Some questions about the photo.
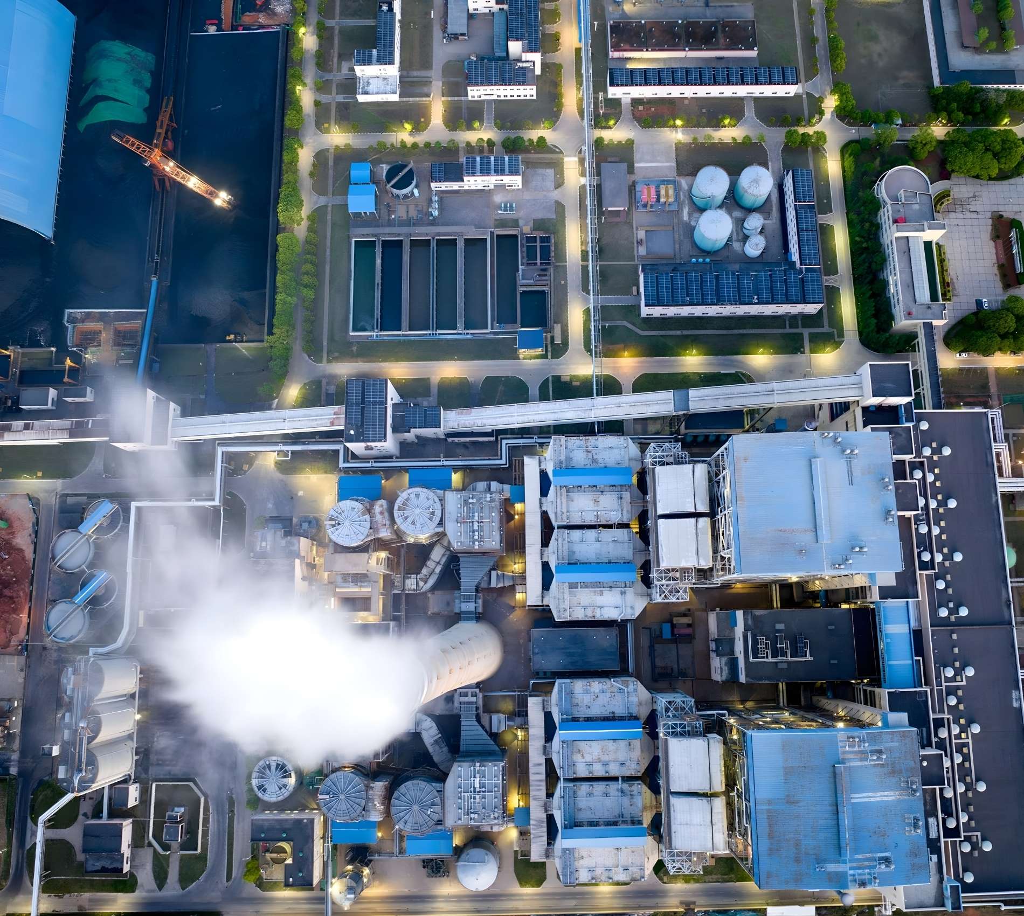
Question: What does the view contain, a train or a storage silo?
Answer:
storage silo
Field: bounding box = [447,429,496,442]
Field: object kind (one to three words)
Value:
building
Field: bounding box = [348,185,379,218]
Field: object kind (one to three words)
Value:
shed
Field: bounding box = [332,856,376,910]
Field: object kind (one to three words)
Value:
silo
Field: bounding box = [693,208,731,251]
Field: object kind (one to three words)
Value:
storage tank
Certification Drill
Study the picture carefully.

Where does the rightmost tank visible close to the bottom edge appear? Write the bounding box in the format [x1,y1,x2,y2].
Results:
[455,835,502,895]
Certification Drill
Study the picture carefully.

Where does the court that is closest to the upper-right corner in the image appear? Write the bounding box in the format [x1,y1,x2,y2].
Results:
[1002,393,1024,426]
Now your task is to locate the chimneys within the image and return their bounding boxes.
[359,621,504,714]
